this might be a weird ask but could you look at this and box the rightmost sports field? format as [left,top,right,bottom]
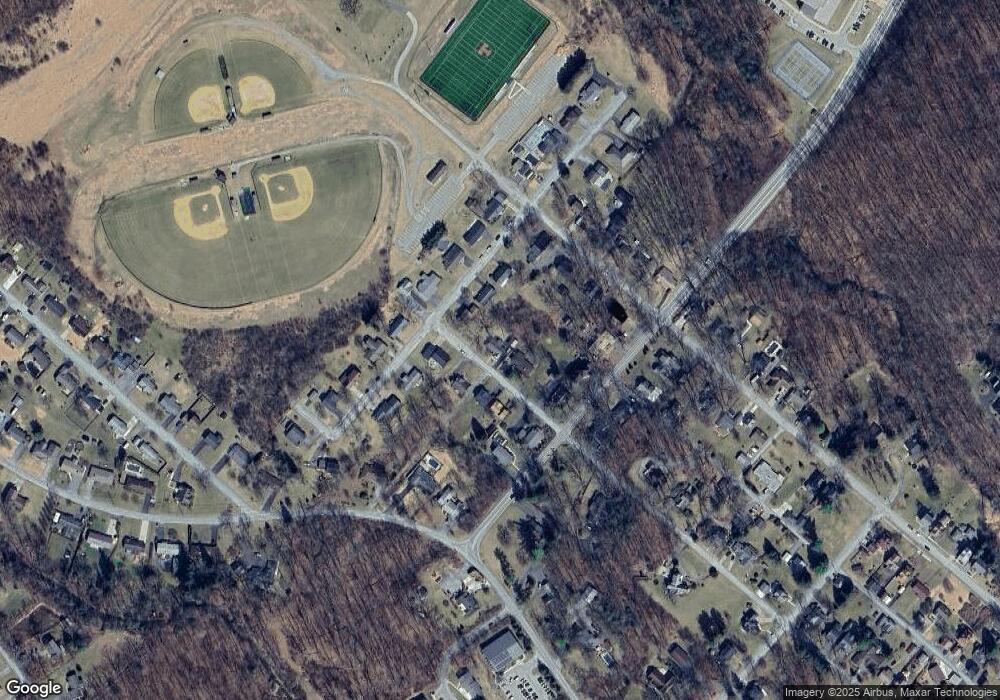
[420,0,550,120]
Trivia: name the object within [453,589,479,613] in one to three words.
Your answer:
house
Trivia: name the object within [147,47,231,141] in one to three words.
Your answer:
baseball field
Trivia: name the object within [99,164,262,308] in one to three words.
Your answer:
baseball field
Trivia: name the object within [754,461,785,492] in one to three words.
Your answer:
building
